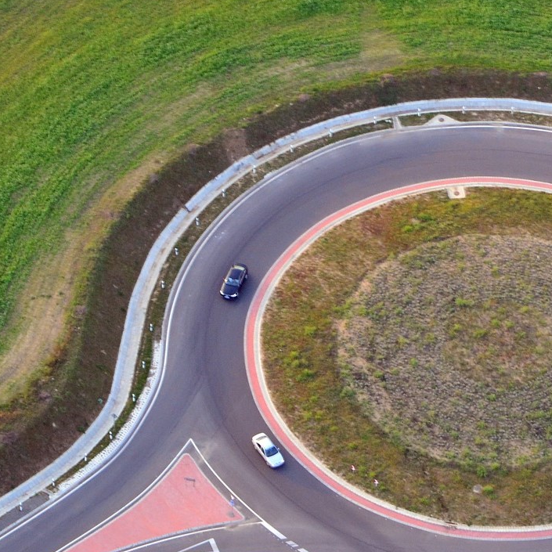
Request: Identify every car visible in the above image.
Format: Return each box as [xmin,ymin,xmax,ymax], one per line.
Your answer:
[220,264,247,295]
[251,432,285,467]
